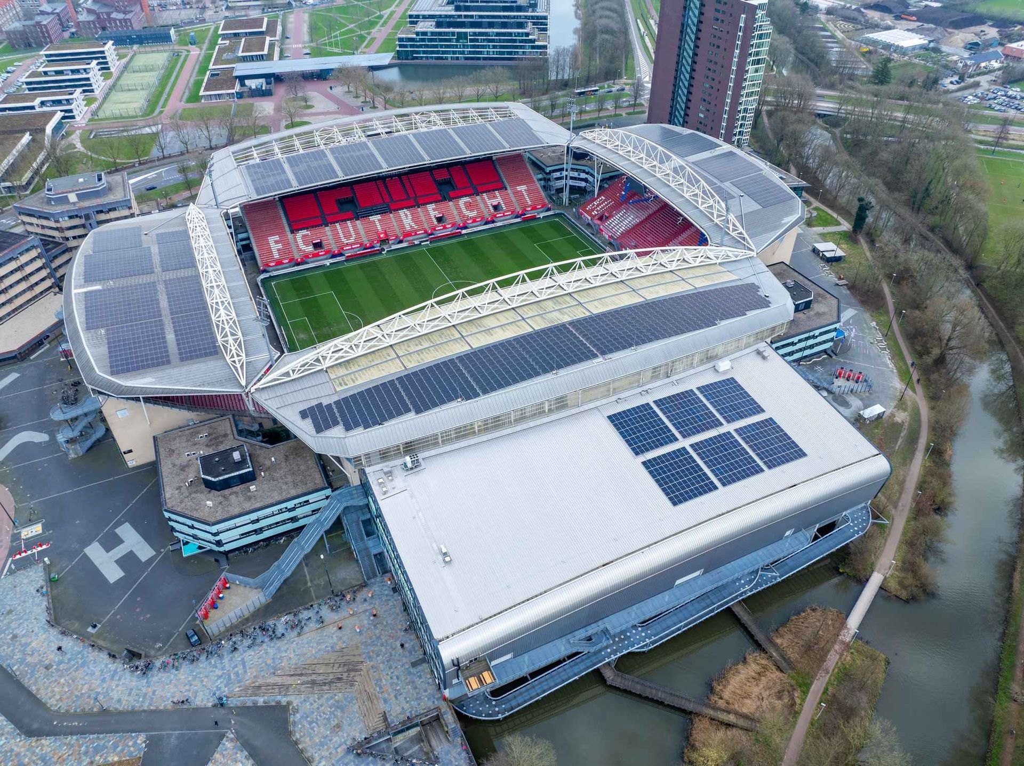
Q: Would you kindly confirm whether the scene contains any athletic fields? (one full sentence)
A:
Yes, the frame does contain an athletic field.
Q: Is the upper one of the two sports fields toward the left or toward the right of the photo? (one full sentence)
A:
It is on the right.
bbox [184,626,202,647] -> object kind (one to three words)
car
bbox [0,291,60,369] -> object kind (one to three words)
building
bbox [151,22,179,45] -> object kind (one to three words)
building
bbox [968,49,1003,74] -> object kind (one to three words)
house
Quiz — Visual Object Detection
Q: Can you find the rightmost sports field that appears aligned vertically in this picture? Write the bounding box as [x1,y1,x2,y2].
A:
[976,144,1024,279]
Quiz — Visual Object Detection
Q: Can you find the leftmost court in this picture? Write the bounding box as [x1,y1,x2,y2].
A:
[98,51,172,117]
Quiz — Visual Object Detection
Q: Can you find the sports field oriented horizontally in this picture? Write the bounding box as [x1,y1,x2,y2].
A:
[272,219,602,342]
